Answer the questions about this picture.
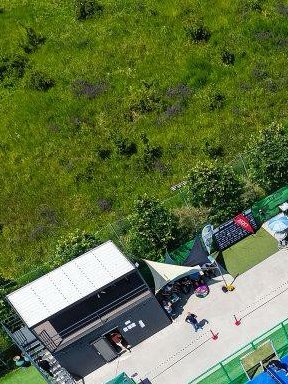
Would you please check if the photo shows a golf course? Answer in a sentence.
No, the picture doesn't show any golf course.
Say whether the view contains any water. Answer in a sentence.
No, the picture contains no water.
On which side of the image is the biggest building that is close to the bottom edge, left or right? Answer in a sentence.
It is on the left.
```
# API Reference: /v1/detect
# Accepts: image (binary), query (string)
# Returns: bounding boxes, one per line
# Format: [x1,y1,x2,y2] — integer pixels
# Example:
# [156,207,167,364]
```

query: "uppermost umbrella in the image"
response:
[267,217,288,248]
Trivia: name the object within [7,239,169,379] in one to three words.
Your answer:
building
